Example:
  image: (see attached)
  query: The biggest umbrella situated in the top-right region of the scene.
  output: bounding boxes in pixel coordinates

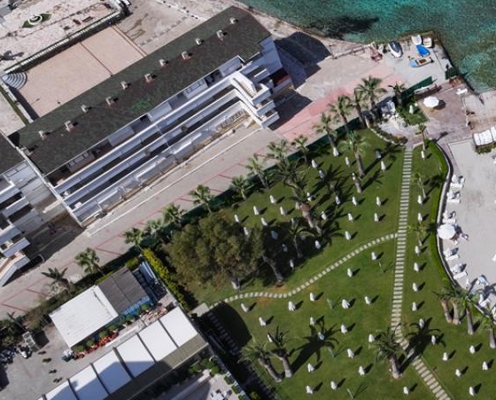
[423,100,438,114]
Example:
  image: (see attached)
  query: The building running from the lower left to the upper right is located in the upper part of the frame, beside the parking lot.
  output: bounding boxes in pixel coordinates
[8,7,291,228]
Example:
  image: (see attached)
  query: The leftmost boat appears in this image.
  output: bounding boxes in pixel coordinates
[386,37,403,57]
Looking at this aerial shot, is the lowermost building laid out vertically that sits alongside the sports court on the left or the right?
left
